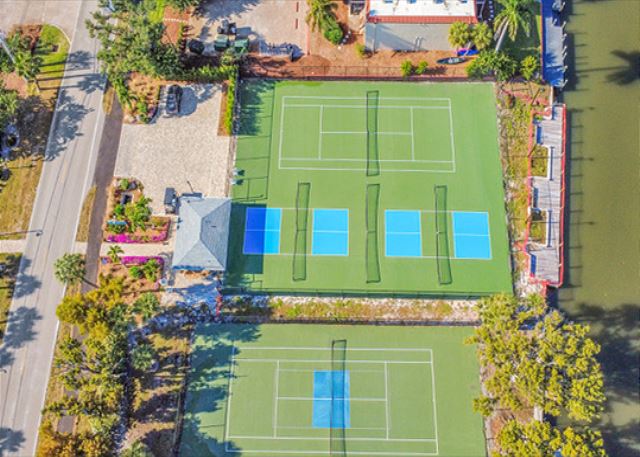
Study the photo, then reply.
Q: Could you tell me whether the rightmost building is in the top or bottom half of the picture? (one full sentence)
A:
The rightmost building is in the top half of the image.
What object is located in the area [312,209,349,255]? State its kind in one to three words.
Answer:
sports court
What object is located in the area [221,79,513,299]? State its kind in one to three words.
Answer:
tennis court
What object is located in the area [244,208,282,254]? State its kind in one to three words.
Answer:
sports court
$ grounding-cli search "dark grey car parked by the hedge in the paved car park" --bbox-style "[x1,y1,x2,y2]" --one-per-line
[161,84,181,114]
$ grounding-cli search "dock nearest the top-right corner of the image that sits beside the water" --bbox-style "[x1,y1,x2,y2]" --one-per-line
[542,0,564,86]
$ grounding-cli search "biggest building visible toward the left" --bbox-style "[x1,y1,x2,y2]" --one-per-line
[171,197,234,271]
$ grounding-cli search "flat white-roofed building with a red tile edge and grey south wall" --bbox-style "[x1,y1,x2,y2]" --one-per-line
[360,0,475,56]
